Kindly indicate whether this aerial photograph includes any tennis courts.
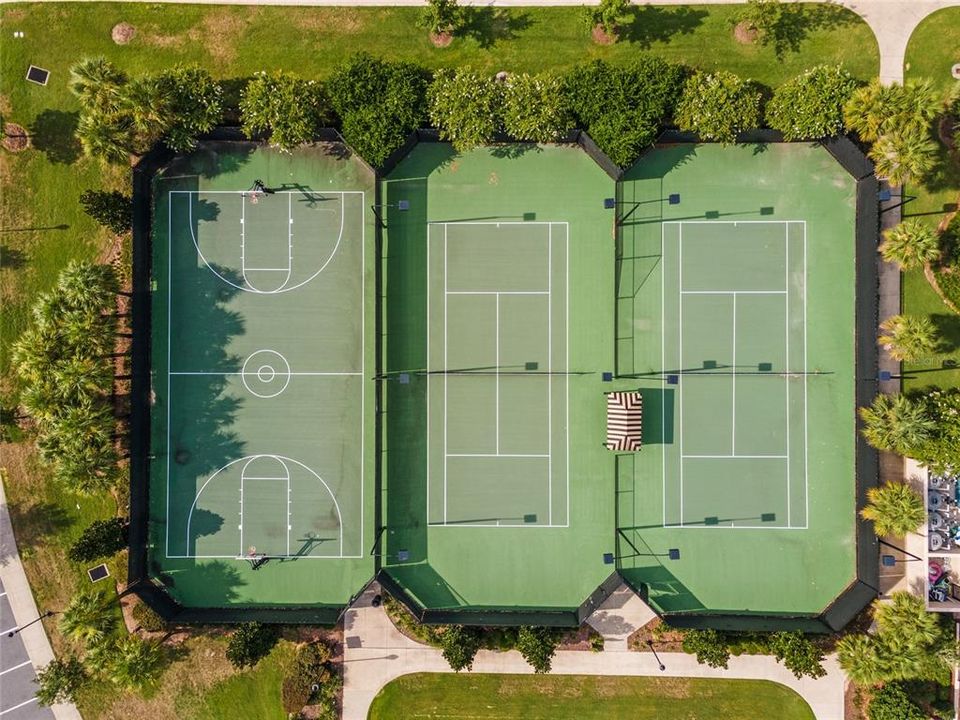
Yes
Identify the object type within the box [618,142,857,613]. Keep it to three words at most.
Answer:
tennis court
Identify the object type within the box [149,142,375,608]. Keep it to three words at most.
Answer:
basketball court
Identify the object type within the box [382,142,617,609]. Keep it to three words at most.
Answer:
tennis court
